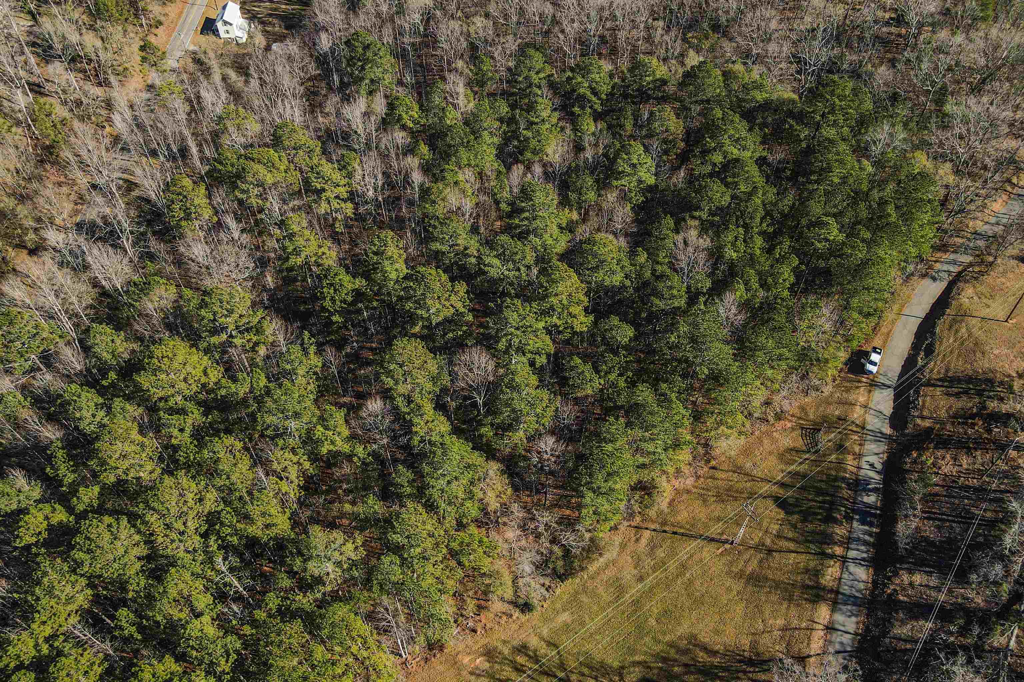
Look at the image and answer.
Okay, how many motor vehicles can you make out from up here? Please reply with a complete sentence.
The picture shows 1 motor vehicle.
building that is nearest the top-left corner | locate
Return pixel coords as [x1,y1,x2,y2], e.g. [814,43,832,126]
[220,0,257,39]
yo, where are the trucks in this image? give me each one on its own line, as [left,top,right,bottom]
[860,347,881,375]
